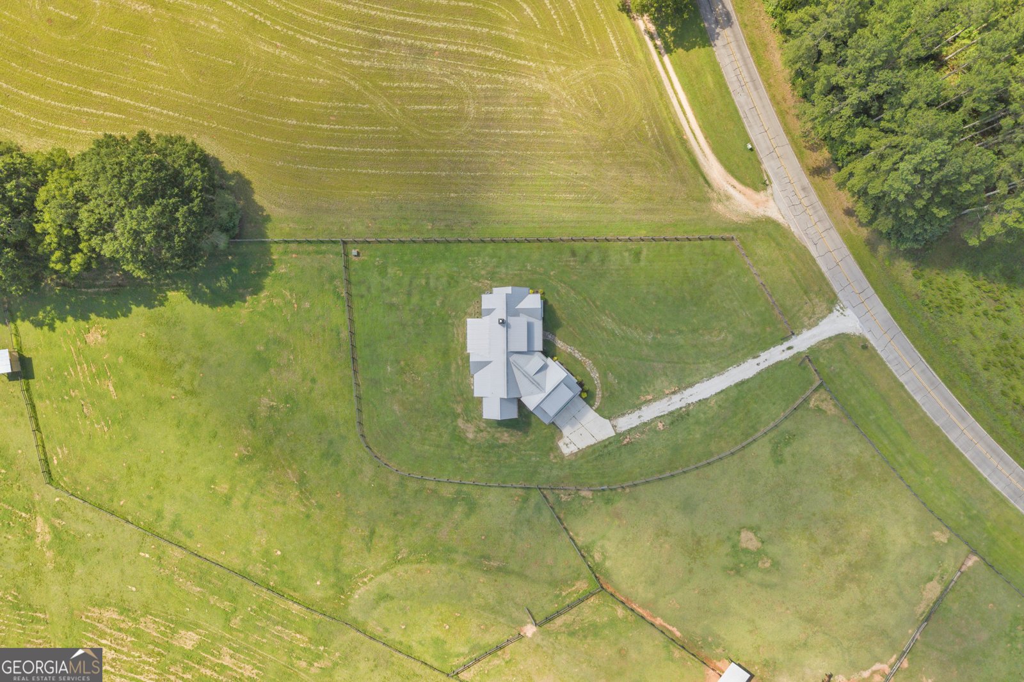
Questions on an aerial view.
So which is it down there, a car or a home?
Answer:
home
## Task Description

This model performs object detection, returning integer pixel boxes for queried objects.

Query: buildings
[0,349,22,373]
[719,658,750,682]
[467,286,581,424]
